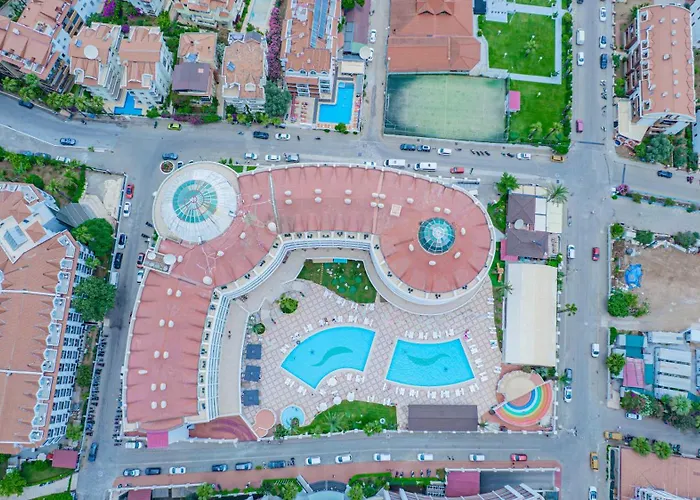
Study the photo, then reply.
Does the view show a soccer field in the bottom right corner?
No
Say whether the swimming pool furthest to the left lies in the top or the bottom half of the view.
top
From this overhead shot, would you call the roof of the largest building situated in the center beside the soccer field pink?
Yes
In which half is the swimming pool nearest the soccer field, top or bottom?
top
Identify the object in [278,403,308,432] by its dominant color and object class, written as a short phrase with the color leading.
blue swimming pool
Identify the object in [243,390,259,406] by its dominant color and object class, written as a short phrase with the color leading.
blue umbrella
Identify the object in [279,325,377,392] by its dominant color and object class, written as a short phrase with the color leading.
blue swimming pool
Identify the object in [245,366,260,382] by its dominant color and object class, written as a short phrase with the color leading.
blue umbrella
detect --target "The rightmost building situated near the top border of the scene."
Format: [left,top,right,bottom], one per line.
[623,2,696,133]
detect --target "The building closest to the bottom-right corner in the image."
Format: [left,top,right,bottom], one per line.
[615,446,700,500]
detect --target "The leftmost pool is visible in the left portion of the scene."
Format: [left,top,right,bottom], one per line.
[112,89,142,116]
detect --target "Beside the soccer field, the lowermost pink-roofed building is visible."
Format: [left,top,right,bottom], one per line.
[119,156,496,438]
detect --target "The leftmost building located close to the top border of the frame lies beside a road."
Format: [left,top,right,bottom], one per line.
[0,0,87,100]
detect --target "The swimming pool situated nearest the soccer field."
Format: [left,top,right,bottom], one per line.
[317,81,355,124]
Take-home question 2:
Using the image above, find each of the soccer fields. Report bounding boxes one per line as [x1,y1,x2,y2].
[385,70,510,140]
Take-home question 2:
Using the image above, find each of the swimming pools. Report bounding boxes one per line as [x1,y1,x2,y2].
[278,403,308,432]
[279,325,377,392]
[112,89,142,116]
[383,335,477,389]
[317,81,355,124]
